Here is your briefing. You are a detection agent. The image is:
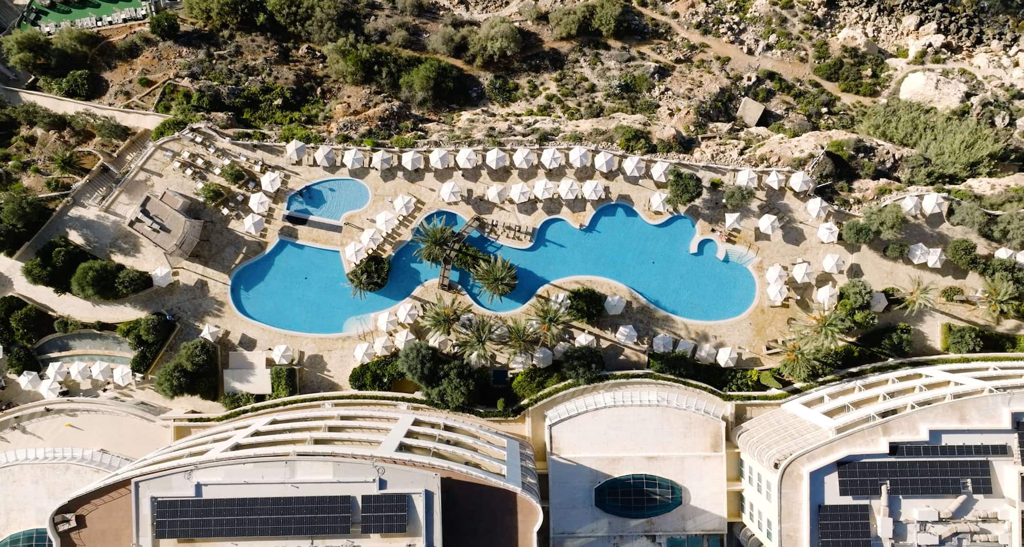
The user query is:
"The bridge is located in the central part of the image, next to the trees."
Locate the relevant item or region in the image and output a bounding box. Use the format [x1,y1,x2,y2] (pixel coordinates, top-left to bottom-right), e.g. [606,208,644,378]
[438,217,484,293]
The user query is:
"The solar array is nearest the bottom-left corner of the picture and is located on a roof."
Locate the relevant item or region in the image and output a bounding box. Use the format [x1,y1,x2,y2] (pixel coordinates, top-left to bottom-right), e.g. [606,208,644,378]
[156,493,351,538]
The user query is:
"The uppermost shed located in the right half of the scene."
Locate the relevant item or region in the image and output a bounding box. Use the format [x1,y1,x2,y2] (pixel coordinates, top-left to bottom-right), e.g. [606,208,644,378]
[734,96,766,128]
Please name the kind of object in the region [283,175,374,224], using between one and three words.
swimming pool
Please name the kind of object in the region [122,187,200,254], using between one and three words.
shed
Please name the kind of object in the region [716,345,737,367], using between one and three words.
umbrella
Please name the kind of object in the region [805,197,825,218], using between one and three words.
umbrella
